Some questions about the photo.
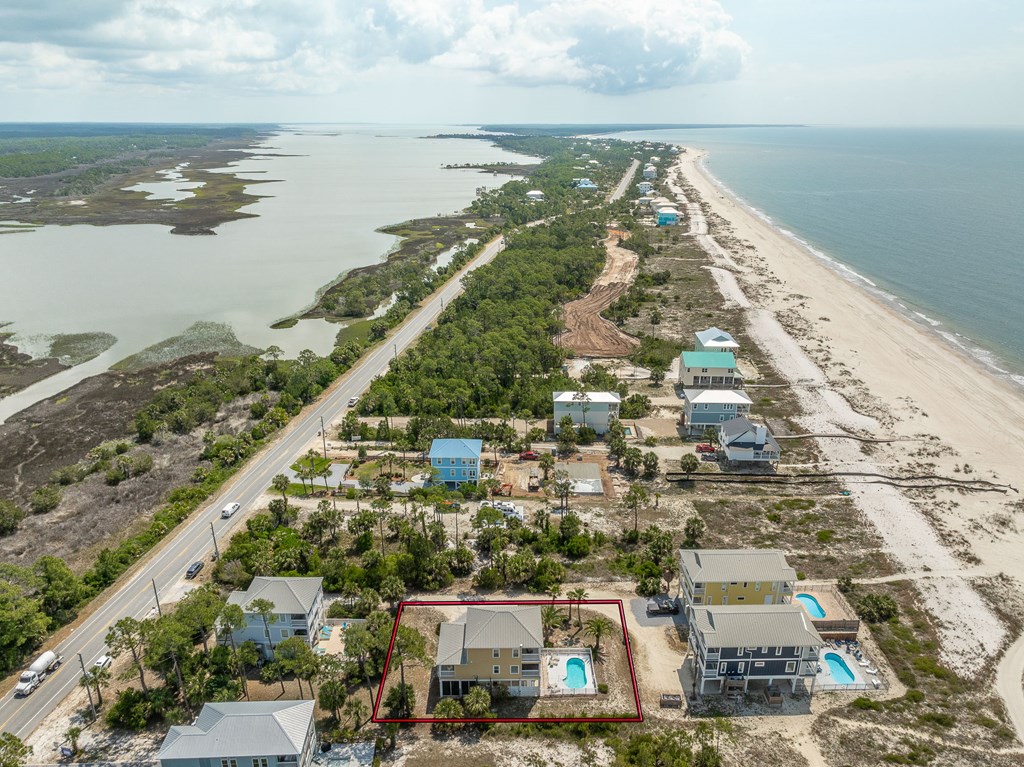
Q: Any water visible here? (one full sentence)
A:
Yes, water can be seen from above here.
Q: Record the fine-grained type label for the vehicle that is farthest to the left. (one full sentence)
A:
I'd say the vehicle that is farthest to the left is a truck.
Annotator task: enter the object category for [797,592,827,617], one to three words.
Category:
swimming pool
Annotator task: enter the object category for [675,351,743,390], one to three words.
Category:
house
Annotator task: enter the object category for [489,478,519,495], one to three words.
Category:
work vehicle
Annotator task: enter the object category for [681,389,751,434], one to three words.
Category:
house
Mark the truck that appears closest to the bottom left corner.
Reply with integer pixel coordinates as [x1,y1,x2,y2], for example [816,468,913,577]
[9,652,68,701]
